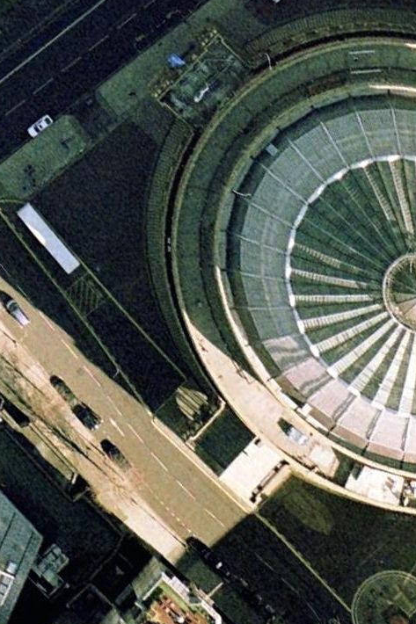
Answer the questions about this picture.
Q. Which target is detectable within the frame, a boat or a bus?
bus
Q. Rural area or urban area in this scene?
urban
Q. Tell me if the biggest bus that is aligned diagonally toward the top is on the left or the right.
left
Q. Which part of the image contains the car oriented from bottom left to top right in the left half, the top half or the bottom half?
top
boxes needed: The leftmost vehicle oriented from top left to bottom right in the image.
[5,297,30,326]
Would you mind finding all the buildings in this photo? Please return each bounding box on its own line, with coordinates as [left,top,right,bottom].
[152,18,416,517]
[0,488,42,624]
[121,549,231,624]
